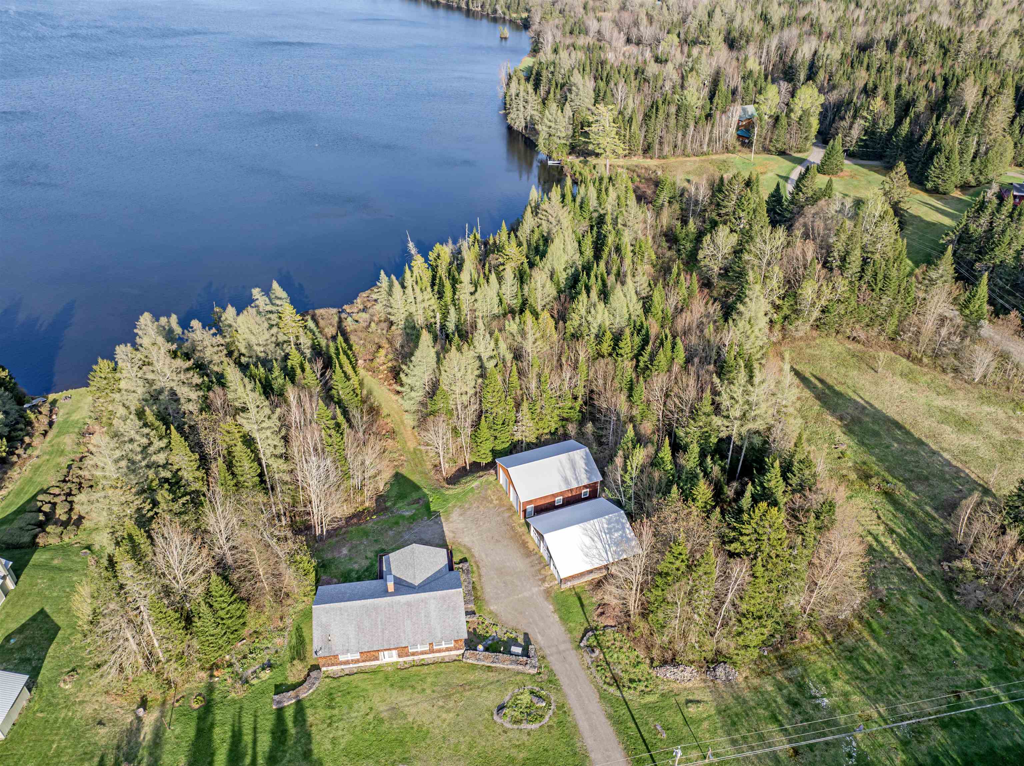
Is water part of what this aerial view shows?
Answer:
Yes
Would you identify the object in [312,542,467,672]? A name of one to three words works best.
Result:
house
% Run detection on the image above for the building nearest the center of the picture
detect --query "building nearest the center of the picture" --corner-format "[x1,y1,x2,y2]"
[495,440,603,521]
